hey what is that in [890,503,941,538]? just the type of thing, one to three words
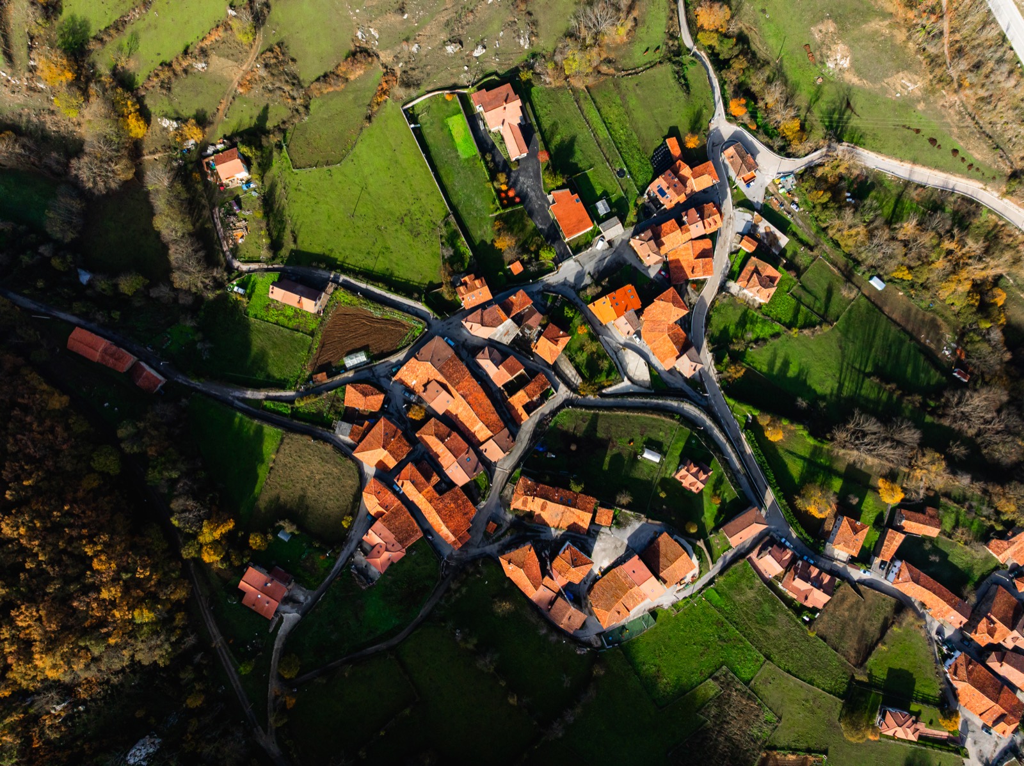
barn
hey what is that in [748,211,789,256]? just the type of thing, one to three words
building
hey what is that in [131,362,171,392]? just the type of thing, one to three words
shed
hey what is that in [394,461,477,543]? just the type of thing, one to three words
house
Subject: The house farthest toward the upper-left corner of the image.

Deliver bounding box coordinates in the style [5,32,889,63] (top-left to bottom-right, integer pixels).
[214,148,249,186]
